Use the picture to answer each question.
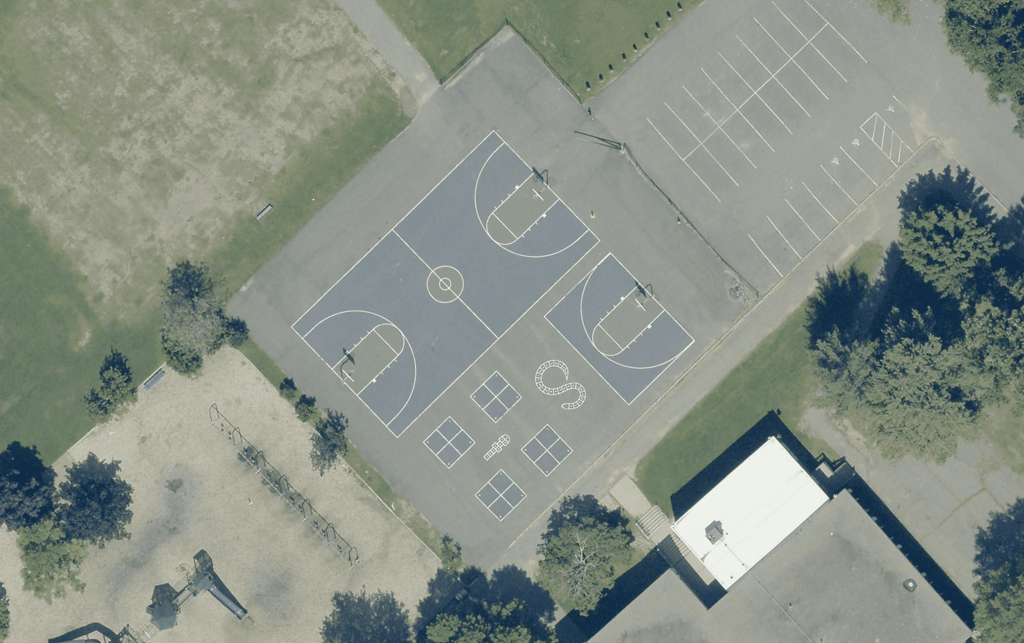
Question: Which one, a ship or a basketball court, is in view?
basketball court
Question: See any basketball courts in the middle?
Yes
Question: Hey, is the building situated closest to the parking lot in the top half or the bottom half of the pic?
bottom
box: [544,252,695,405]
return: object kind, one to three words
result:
basketball court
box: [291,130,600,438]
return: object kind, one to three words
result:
basketball court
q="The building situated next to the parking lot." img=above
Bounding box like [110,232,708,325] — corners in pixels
[587,427,975,643]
